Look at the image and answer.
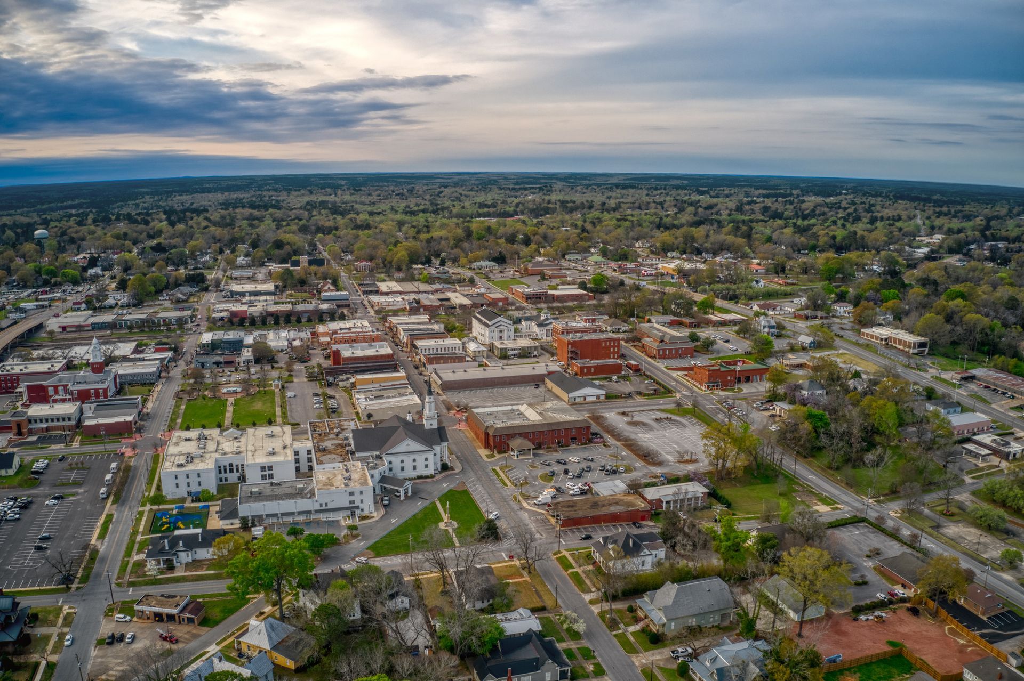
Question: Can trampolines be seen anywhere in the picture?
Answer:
No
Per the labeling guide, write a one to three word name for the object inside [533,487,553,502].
vehicle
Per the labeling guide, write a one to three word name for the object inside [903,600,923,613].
vehicle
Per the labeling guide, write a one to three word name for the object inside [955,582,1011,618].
house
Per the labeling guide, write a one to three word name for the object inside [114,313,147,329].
building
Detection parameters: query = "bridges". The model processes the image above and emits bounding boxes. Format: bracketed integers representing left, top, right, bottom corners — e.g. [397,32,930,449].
[0,304,56,355]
